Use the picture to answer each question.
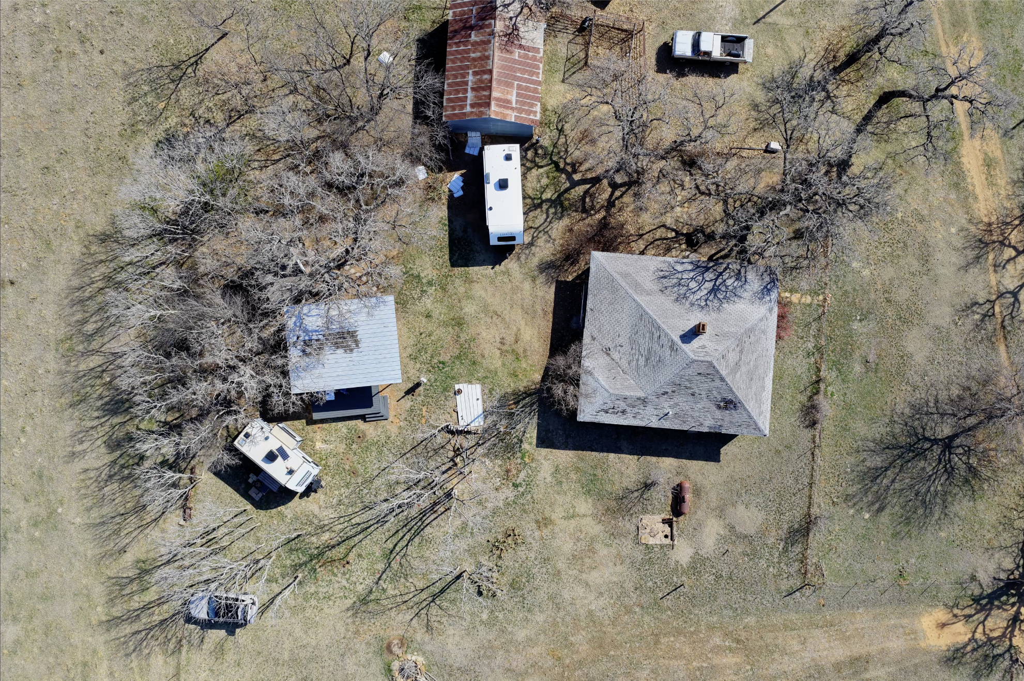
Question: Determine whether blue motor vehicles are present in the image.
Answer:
No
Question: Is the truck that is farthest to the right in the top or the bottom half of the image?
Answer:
top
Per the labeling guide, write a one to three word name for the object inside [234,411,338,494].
trailer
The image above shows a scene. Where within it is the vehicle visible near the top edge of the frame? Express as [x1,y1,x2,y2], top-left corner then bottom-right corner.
[667,26,754,66]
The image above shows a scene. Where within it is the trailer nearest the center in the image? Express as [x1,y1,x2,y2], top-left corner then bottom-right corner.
[482,144,524,260]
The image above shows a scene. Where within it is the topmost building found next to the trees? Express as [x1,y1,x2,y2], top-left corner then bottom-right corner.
[443,0,546,139]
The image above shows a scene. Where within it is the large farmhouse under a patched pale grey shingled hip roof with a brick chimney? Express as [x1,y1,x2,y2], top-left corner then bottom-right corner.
[576,250,779,438]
